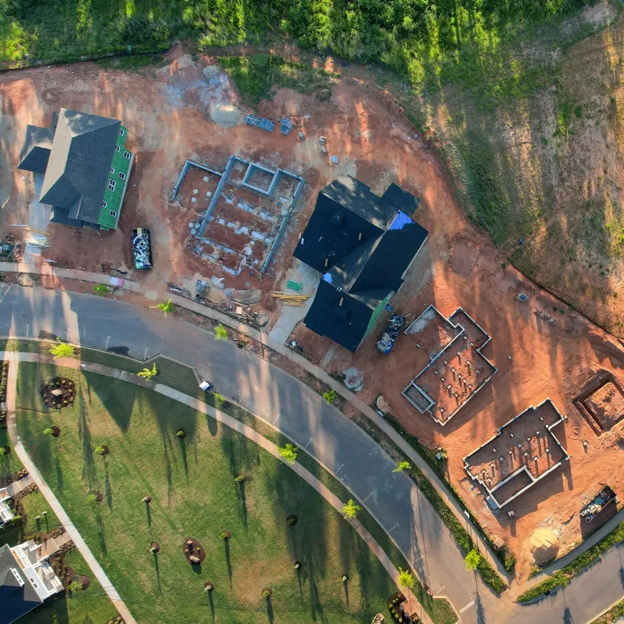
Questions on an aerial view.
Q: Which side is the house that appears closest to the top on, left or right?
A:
left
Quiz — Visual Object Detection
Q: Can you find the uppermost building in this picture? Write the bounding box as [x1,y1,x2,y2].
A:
[18,107,136,231]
